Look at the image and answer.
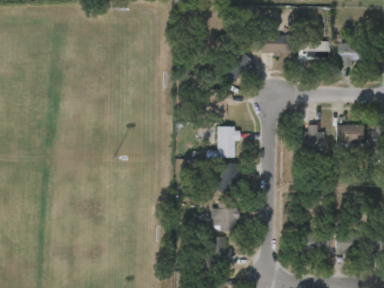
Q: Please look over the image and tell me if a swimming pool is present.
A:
No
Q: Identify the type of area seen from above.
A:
sports ground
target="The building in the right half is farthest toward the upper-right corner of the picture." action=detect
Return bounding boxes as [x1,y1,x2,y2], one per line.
[338,44,360,68]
